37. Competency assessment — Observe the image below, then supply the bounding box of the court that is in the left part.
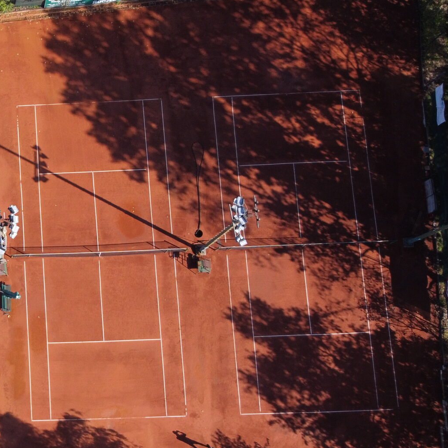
[10,92,194,428]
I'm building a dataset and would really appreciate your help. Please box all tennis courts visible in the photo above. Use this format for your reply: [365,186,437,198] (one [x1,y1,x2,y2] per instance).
[205,84,408,422]
[10,92,194,428]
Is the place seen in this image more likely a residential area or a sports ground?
sports ground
